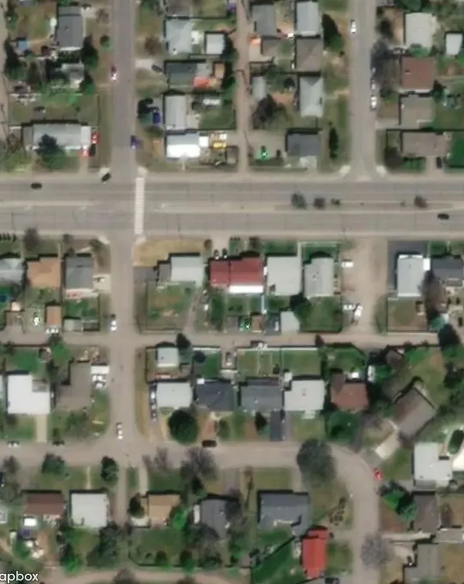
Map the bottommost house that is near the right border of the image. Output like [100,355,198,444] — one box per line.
[405,542,441,584]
